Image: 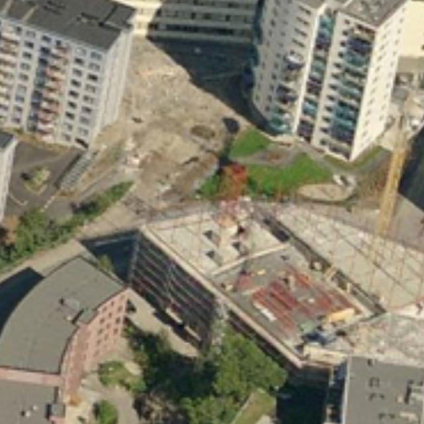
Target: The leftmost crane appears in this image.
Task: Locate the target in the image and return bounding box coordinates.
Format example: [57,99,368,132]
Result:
[219,168,247,235]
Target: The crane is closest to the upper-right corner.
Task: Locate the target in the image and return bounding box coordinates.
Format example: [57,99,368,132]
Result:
[376,104,419,241]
